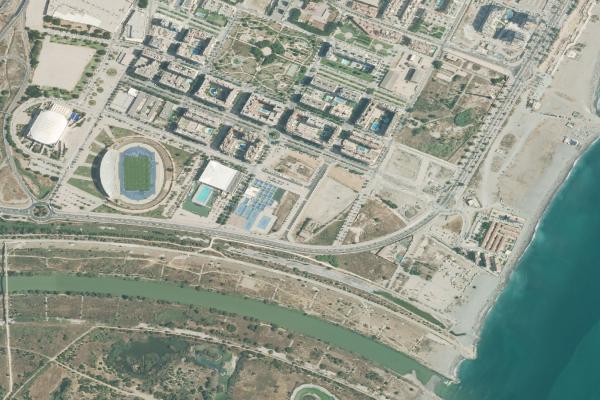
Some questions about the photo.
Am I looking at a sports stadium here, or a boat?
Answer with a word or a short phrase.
sports stadium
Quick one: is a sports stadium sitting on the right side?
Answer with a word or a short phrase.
No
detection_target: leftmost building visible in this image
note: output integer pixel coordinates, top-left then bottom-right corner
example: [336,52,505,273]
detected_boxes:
[54,6,103,25]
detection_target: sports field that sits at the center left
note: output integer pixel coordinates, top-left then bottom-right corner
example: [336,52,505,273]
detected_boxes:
[125,155,150,191]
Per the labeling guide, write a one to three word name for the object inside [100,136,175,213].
stadium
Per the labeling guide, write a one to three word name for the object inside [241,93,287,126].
building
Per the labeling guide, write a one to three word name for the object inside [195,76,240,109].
building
